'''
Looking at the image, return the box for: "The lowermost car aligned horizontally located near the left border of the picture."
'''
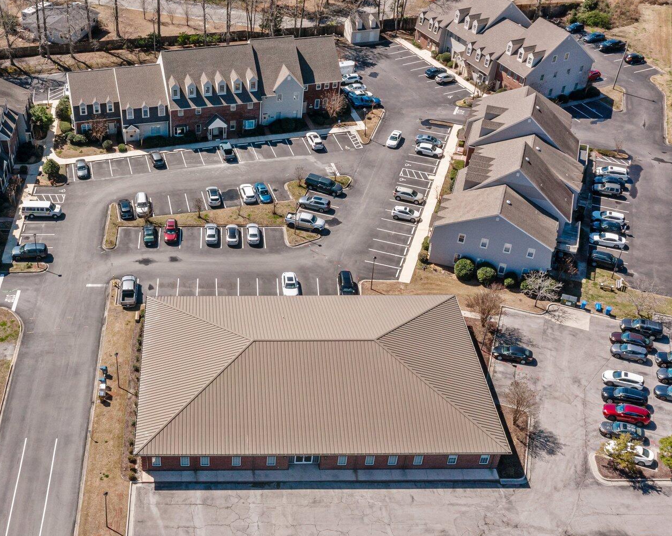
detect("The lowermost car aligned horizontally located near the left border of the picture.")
[12,242,48,259]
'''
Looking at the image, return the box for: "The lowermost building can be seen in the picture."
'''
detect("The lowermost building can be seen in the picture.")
[133,295,513,469]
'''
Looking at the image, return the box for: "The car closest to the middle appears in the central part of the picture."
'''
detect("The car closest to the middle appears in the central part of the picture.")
[337,269,356,296]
